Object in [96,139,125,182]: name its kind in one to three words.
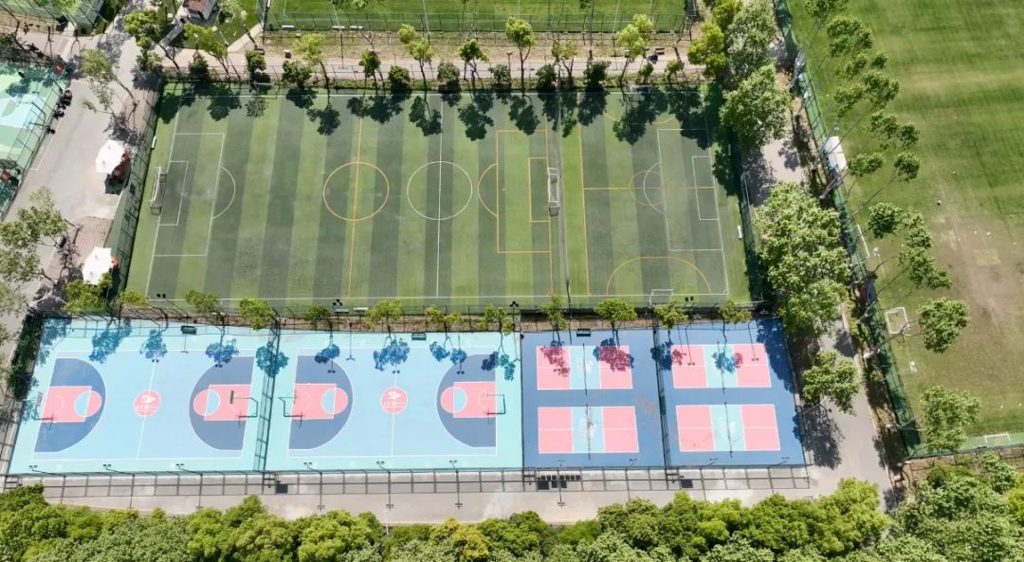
tent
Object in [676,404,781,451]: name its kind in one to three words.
sports court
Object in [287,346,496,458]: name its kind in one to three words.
basketball court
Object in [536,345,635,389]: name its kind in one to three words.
sports court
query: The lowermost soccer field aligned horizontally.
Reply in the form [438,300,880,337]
[121,84,750,314]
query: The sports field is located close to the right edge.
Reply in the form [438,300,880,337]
[785,0,1024,457]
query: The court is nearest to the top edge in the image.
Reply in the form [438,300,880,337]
[0,66,70,223]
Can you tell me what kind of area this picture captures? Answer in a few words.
sports ground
